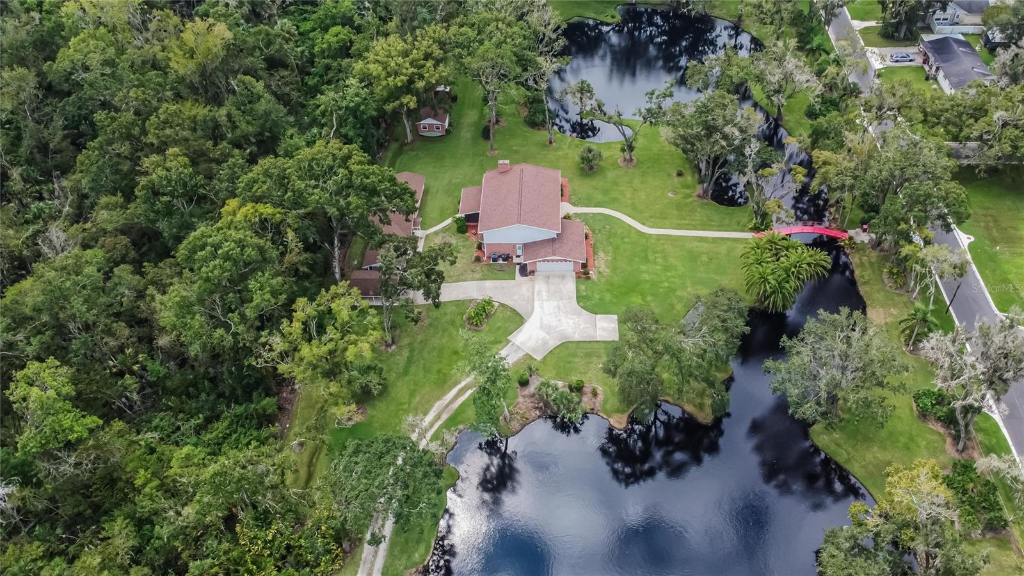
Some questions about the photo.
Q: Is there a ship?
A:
No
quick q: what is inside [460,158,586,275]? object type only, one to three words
house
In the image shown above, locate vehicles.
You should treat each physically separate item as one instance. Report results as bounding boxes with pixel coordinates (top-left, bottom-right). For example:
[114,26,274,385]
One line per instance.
[889,50,917,62]
[913,41,927,52]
